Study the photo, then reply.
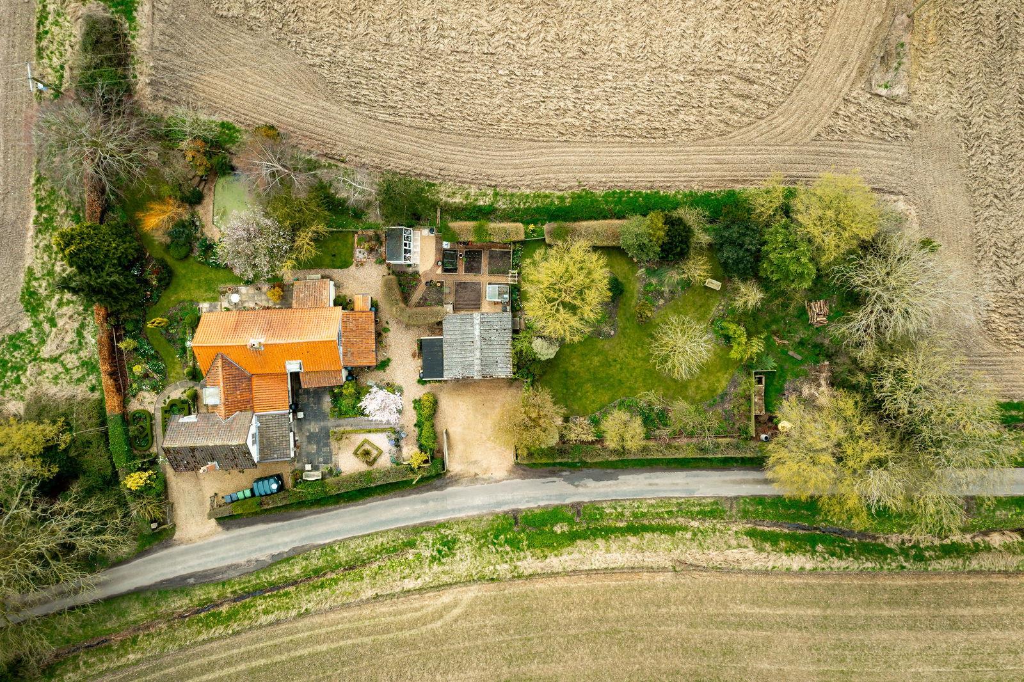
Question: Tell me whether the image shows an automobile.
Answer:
No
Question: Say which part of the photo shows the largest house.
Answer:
left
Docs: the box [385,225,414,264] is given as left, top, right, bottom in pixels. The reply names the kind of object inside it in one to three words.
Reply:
shed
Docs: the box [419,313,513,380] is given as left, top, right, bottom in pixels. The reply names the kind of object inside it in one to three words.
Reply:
shed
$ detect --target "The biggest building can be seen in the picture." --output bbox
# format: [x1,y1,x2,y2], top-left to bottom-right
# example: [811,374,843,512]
[161,278,378,475]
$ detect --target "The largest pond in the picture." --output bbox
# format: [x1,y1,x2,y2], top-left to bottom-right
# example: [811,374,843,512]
[214,175,265,238]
